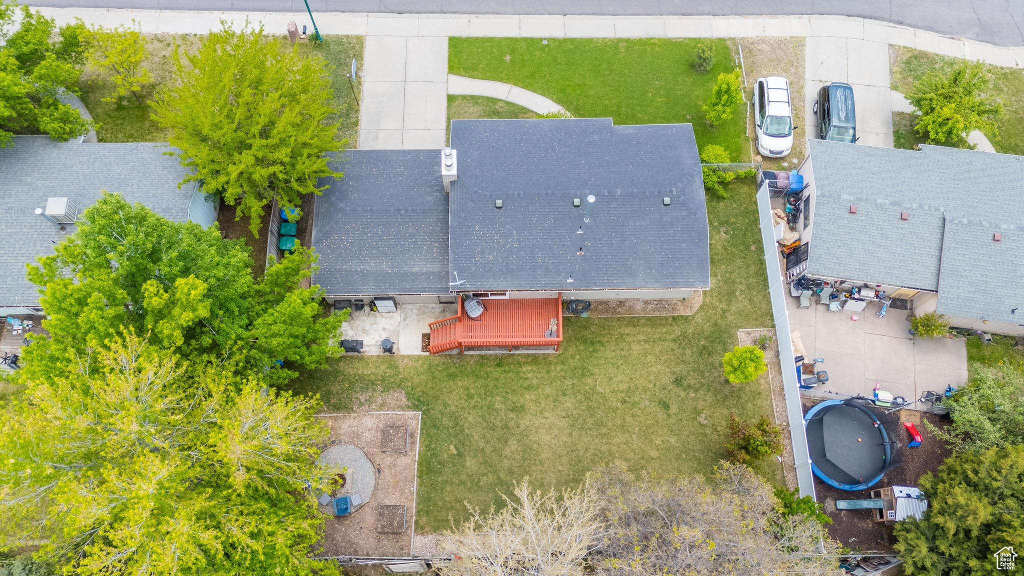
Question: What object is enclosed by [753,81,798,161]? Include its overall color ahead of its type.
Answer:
white car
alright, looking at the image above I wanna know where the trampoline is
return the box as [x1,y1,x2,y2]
[802,392,909,496]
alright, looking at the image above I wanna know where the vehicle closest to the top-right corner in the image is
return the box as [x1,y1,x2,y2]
[815,84,863,144]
